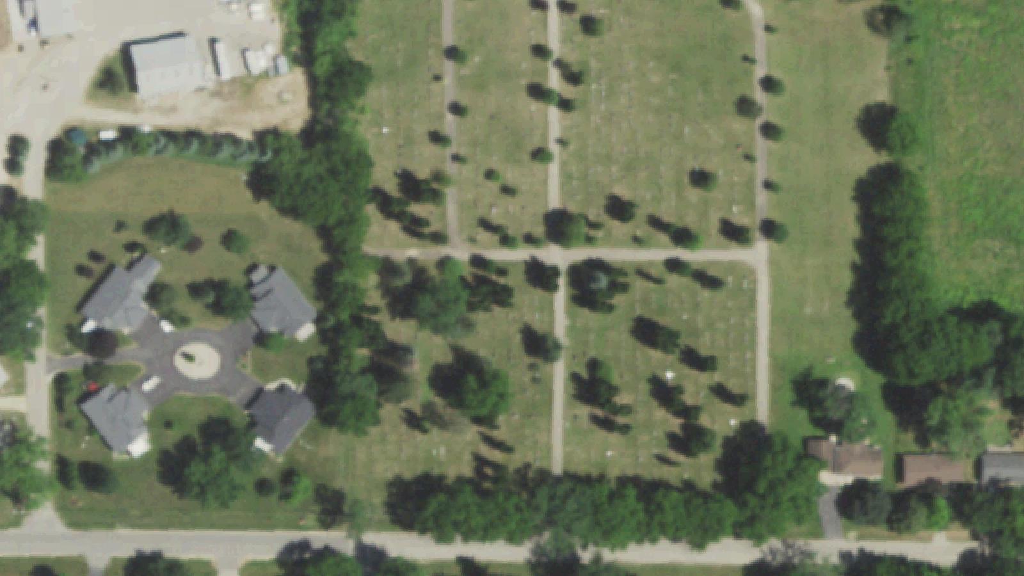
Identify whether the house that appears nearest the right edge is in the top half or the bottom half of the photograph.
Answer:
bottom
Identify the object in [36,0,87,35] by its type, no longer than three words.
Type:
shed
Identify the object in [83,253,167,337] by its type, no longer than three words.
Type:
house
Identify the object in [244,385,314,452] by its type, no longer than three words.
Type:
house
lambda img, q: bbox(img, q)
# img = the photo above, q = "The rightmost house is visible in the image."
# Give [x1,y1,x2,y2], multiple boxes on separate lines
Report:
[980,446,1024,483]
